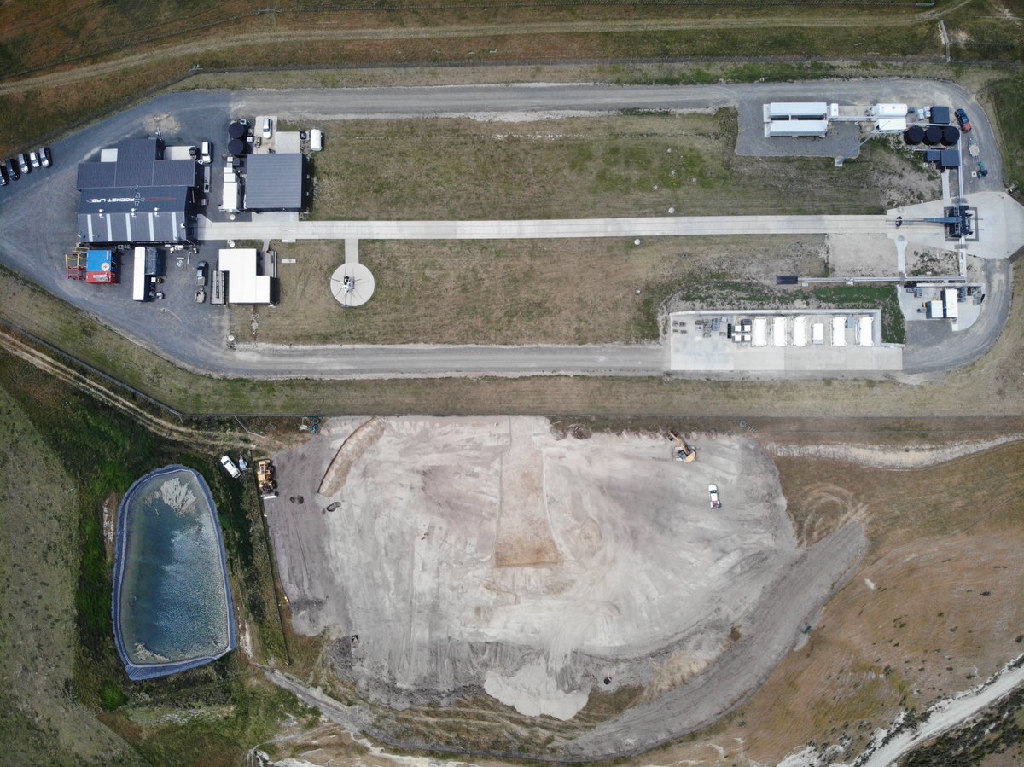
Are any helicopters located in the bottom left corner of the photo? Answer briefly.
No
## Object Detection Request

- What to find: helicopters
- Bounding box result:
[328,267,362,307]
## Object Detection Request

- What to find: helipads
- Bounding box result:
[330,239,375,307]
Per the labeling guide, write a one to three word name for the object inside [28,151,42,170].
car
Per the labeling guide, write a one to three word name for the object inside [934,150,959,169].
shed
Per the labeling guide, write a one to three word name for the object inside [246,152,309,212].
building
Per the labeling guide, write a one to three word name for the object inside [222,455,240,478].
vehicle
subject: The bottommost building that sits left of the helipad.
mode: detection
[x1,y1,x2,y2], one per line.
[219,249,274,306]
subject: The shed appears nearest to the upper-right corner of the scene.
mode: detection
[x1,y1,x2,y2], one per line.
[925,106,949,127]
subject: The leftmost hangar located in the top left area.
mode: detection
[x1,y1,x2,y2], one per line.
[76,137,202,247]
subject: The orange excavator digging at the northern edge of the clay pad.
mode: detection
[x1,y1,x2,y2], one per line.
[666,429,696,463]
